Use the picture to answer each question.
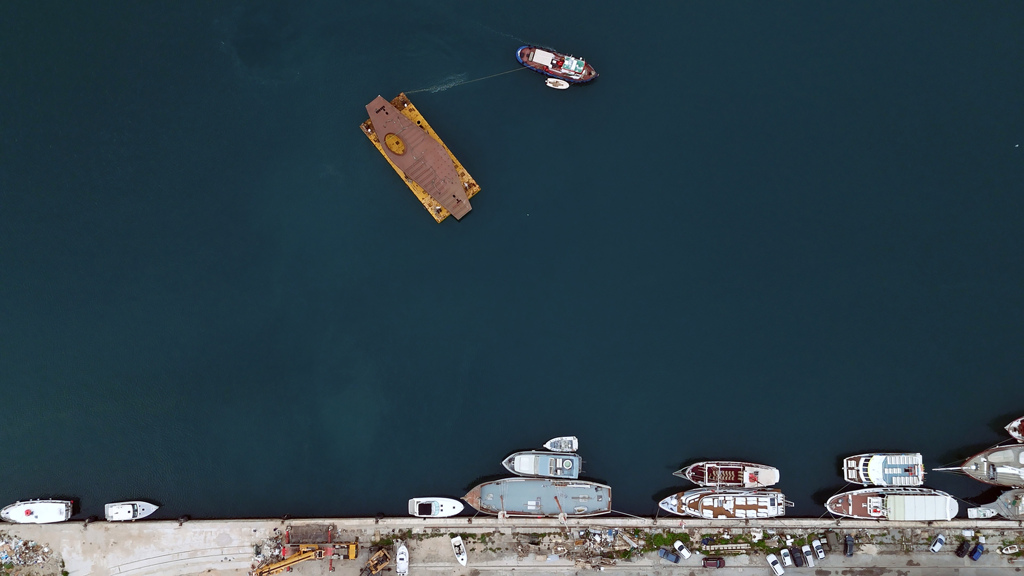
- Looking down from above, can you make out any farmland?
No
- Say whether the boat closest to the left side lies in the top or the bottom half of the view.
bottom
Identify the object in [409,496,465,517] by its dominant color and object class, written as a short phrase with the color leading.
white boat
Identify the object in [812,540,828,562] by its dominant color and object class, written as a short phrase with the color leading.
white car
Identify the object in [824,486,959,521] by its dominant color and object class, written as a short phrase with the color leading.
white boat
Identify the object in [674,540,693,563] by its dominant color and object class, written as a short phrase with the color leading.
white car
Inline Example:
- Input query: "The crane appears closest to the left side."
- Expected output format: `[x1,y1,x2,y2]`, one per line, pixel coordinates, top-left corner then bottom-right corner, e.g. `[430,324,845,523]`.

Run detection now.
[248,526,359,576]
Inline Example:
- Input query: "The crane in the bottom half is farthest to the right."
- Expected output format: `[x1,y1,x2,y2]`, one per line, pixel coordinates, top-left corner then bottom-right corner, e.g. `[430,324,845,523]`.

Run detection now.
[357,545,393,576]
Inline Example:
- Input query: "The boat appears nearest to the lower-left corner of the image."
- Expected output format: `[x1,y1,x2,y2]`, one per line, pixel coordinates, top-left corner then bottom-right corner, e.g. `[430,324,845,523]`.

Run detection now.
[0,500,75,525]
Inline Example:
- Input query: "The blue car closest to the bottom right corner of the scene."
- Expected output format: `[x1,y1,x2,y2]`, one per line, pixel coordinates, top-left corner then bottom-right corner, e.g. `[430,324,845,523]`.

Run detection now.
[970,544,986,564]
